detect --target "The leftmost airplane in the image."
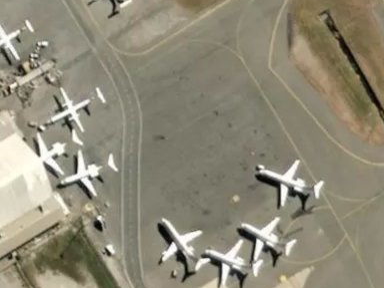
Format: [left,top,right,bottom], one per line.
[0,19,36,58]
